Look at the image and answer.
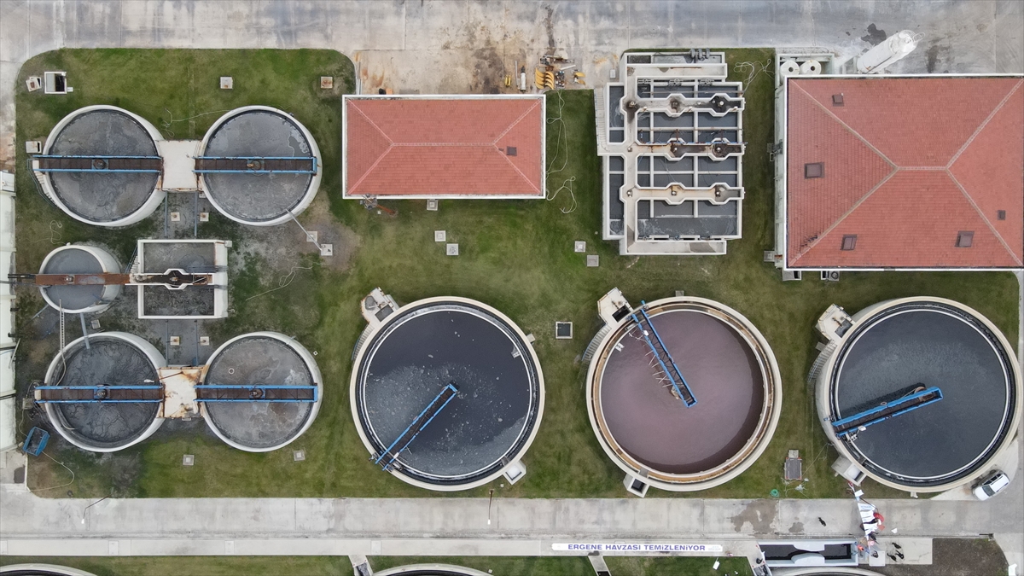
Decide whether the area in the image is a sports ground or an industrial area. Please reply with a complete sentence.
It's an industrial area.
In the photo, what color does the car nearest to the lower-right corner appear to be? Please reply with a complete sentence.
The color of the car nearest to the lower-right corner is white.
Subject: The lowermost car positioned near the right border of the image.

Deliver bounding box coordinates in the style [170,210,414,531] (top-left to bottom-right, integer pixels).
[975,471,1016,502]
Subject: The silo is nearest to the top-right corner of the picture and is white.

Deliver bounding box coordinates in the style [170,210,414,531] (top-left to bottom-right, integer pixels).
[842,26,930,75]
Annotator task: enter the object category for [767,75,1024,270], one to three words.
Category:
building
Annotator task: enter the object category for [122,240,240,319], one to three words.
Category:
storage tank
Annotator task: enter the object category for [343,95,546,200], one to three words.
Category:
building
